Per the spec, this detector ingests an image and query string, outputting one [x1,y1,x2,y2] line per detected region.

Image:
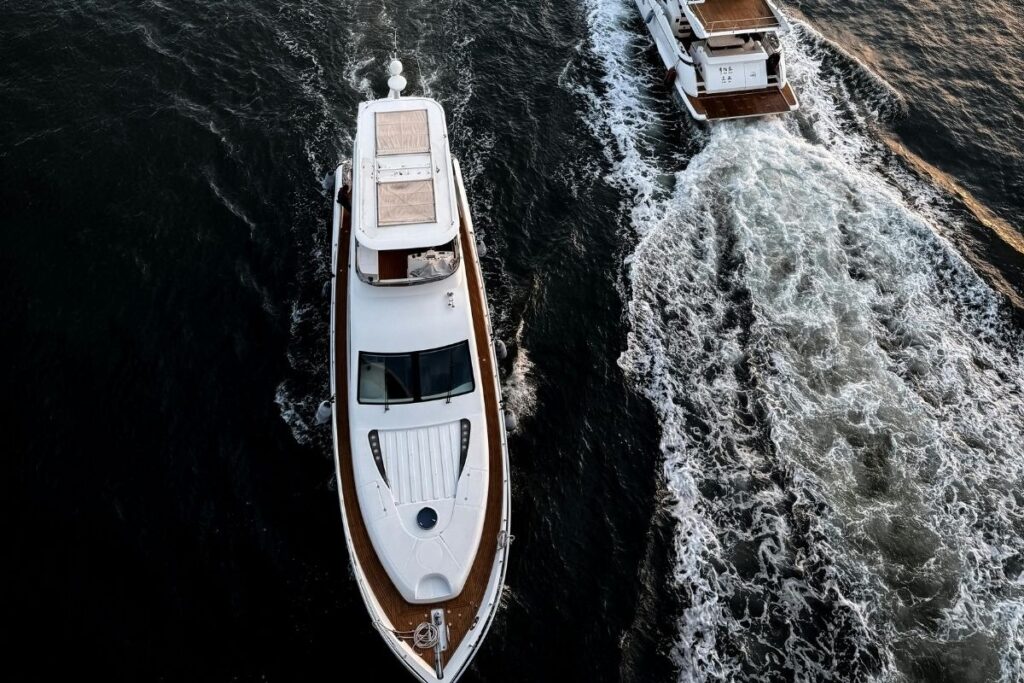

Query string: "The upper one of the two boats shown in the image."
[630,0,799,122]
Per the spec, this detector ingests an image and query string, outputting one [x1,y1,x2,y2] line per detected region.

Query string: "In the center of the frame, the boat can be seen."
[332,30,513,683]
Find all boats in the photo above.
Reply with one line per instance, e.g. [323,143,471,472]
[630,0,799,122]
[332,30,513,683]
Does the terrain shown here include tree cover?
No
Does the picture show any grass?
No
